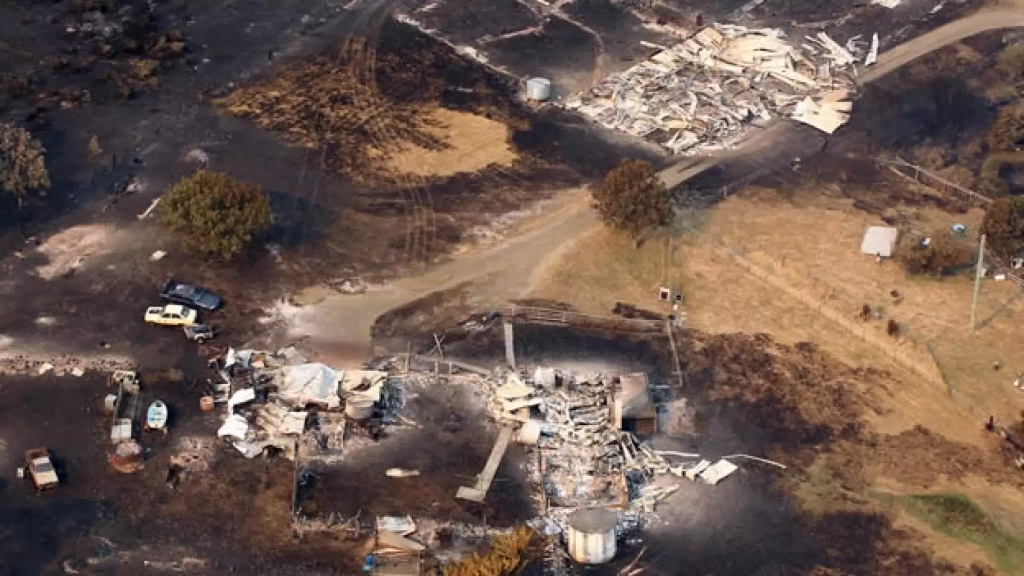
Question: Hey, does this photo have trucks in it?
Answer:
Yes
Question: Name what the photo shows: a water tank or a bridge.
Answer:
water tank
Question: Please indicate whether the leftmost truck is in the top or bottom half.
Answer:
bottom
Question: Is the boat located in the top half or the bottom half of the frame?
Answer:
bottom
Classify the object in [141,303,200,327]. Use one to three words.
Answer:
car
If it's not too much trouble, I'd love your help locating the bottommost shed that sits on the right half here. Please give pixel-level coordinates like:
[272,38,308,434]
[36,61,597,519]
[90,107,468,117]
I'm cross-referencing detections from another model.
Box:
[619,370,658,431]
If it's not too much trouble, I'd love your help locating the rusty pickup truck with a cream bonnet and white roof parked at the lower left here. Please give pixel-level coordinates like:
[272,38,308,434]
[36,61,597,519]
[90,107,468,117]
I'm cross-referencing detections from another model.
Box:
[25,447,57,492]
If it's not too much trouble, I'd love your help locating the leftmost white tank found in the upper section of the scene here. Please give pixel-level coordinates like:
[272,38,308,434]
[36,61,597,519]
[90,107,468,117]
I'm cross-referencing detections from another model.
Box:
[526,76,550,100]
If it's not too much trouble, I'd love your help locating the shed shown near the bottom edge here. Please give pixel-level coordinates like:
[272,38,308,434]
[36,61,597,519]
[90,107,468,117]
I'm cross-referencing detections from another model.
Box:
[364,516,426,576]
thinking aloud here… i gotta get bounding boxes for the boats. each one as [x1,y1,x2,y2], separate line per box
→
[145,393,165,432]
